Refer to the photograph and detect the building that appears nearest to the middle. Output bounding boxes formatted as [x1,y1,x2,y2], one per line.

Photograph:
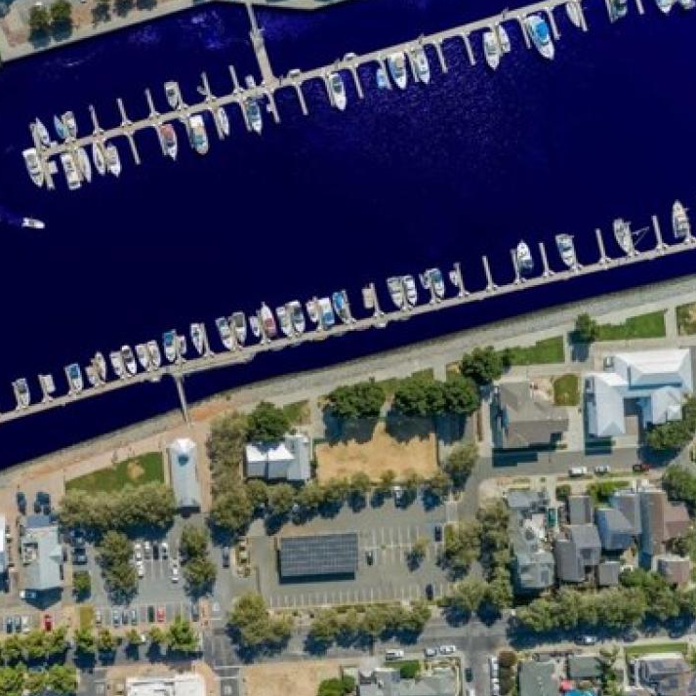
[245,433,311,481]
